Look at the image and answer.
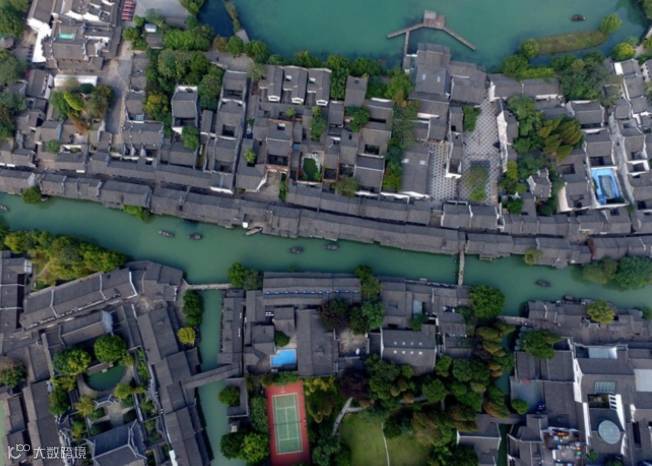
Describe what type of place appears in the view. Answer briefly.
residential area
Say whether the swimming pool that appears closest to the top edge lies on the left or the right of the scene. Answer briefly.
right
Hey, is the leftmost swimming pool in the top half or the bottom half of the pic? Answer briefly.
bottom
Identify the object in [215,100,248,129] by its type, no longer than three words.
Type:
house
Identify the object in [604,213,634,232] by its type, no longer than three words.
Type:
house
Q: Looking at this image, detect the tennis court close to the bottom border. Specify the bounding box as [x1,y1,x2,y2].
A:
[266,381,307,466]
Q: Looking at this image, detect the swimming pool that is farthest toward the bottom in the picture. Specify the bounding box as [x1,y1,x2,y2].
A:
[270,347,297,371]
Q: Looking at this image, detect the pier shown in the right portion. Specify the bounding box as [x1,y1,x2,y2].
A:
[386,11,476,53]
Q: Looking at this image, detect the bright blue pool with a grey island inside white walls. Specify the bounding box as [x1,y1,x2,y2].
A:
[593,169,630,208]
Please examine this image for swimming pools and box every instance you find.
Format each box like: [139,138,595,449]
[270,347,297,371]
[593,169,630,208]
